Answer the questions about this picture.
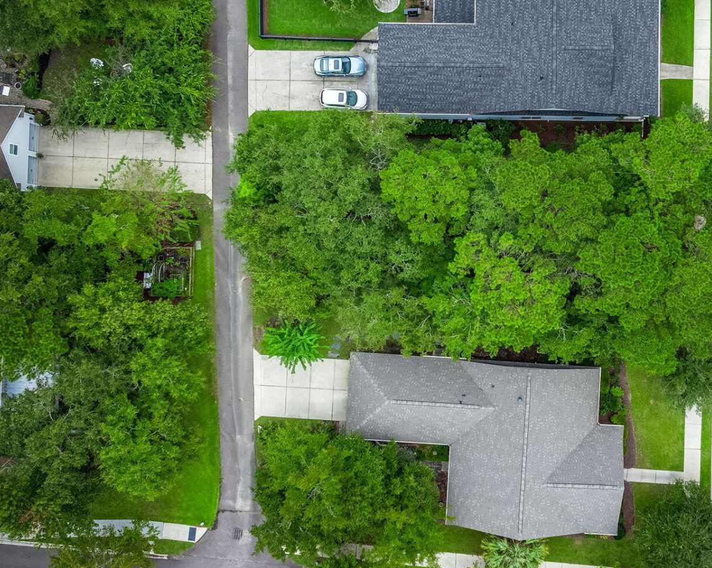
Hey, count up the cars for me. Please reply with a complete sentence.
My tally gives 2 cars in this view.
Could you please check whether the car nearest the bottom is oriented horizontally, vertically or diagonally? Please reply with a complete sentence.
The car nearest the bottom is oriented horizontally.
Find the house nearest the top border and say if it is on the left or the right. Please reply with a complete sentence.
The house nearest the top border is on the right side of the image.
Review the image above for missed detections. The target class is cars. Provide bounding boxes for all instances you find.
[319,86,368,110]
[313,54,366,77]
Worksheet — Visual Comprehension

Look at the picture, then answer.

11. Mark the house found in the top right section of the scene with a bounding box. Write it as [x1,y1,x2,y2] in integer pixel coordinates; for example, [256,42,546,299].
[375,0,661,122]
